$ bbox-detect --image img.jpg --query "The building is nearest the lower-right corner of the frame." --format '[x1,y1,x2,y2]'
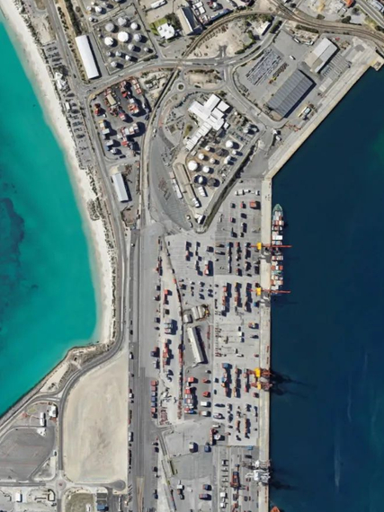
[187,326,204,364]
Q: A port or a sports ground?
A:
port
